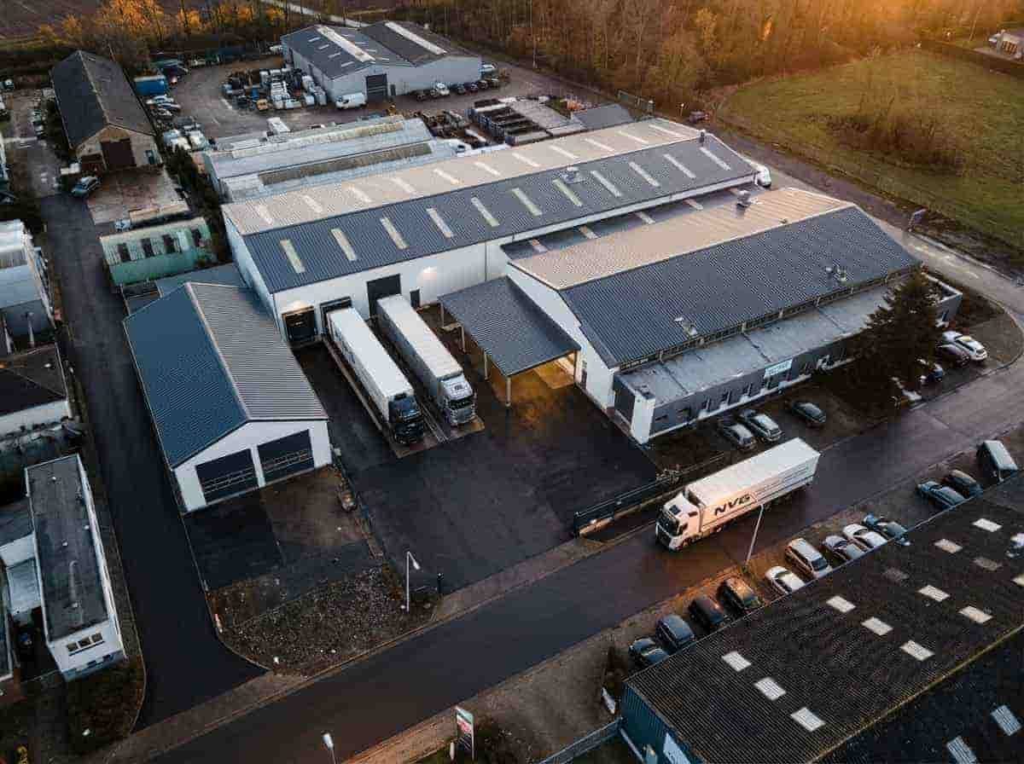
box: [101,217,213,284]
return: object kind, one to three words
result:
shed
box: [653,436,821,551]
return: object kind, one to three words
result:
truck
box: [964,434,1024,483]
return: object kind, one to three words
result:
van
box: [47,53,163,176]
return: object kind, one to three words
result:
barn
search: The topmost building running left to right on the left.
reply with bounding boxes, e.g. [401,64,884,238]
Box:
[268,3,477,103]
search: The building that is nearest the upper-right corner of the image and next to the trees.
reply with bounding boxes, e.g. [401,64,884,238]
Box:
[984,22,1024,57]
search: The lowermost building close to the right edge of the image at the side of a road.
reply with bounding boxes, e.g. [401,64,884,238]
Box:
[615,482,1024,764]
